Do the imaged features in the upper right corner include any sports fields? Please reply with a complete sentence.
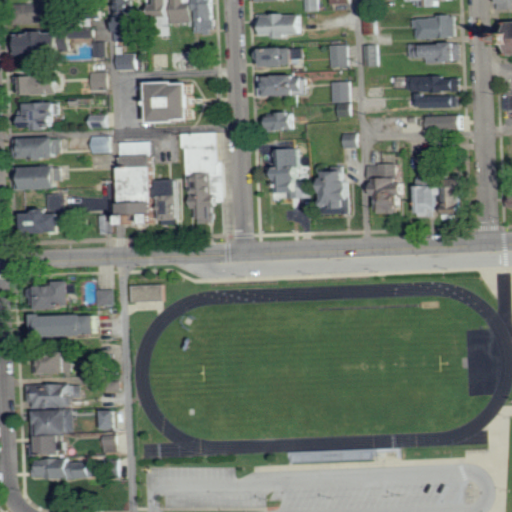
No, there's no sports field to be seen in the upper right corner.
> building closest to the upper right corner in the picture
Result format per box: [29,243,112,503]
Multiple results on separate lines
[478,23,512,56]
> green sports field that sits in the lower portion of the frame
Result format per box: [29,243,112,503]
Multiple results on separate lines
[150,296,492,441]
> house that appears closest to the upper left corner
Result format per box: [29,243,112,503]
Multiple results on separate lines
[12,3,40,28]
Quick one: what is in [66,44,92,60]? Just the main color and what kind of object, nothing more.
blue swimming pool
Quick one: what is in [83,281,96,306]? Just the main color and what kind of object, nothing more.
blue swimming pool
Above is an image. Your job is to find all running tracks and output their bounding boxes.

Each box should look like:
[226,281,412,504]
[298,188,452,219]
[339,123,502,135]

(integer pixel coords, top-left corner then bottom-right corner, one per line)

[136,274,512,458]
